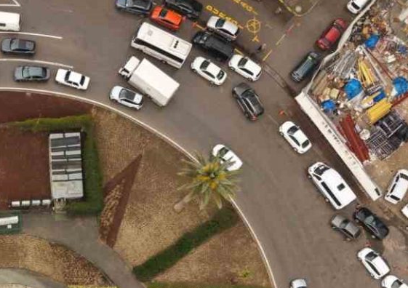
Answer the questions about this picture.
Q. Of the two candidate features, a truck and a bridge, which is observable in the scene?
truck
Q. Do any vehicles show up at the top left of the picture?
Yes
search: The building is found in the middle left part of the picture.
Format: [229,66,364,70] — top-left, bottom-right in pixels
[47,131,85,203]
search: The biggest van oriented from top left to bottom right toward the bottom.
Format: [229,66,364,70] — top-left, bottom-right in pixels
[304,164,360,211]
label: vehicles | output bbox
[151,8,184,31]
[191,57,228,85]
[304,164,360,211]
[356,247,393,280]
[129,22,193,69]
[0,11,20,32]
[108,86,143,109]
[163,0,204,20]
[55,69,89,89]
[277,120,313,154]
[345,0,368,16]
[13,64,49,83]
[290,280,307,288]
[1,36,36,56]
[351,207,392,240]
[116,0,154,15]
[205,15,239,40]
[211,143,244,173]
[383,168,408,205]
[380,275,408,288]
[232,84,265,121]
[399,202,408,220]
[227,55,262,82]
[329,215,363,241]
[117,56,181,108]
[192,33,235,62]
